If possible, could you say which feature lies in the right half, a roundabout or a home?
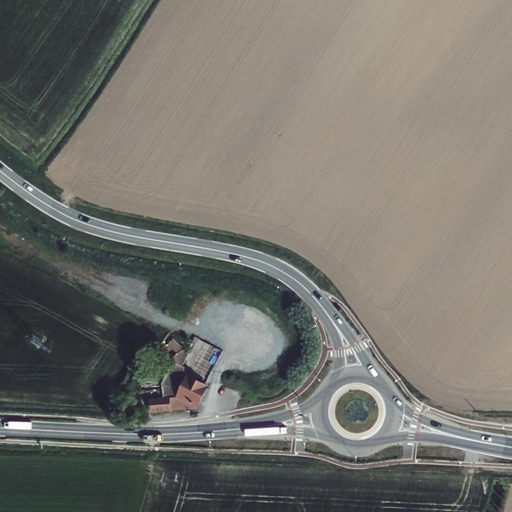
roundabout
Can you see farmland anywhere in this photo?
Yes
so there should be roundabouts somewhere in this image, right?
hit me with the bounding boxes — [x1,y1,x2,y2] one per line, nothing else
[290,337,423,457]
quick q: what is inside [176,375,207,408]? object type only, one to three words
house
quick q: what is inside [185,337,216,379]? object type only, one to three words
barn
